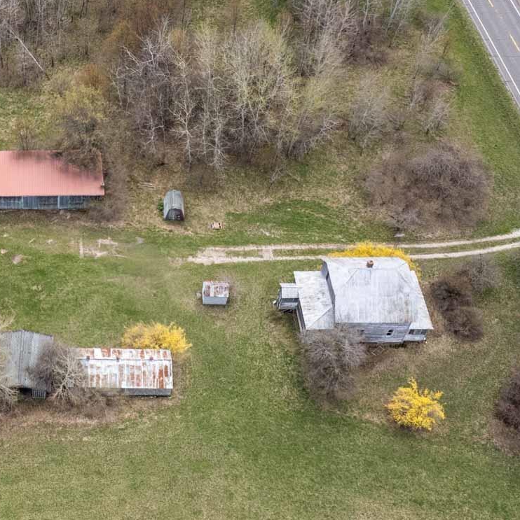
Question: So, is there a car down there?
No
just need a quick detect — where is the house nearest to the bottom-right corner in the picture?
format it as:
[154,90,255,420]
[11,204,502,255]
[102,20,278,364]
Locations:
[271,257,434,343]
